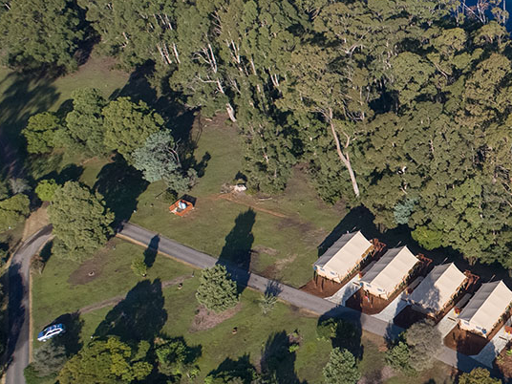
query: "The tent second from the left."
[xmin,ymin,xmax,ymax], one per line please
[357,246,431,313]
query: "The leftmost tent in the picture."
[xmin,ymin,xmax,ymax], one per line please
[309,231,384,296]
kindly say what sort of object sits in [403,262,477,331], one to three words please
tent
